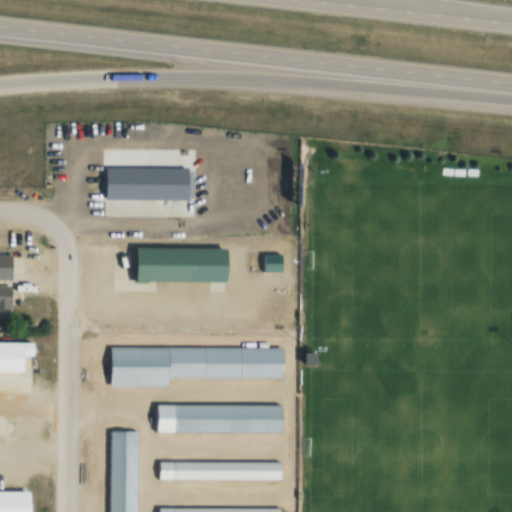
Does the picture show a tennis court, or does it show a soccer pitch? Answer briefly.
soccer pitch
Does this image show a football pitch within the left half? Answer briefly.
No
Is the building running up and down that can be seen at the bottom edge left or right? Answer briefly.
left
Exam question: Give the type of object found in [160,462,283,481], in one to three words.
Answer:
building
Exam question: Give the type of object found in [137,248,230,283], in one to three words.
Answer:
building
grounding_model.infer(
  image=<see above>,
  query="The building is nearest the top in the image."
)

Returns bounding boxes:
[107,168,190,200]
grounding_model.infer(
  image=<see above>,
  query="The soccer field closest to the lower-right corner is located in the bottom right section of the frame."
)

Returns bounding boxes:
[308,368,512,512]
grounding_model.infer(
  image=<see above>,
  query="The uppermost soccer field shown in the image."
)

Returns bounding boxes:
[308,181,512,341]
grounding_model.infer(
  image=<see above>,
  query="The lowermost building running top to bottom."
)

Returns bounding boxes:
[111,431,140,512]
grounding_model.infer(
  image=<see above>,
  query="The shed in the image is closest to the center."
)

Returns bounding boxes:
[264,254,284,272]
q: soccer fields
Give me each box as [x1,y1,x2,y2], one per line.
[308,181,512,341]
[308,368,512,512]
